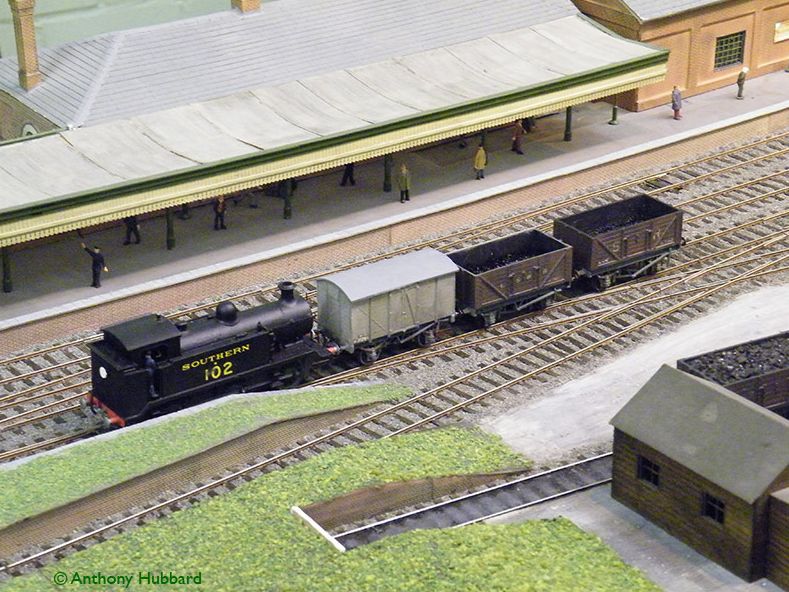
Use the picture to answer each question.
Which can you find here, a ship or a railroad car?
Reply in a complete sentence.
Visible in the photo is a railroad car.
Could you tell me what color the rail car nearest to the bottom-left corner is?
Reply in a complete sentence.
The color of the rail car nearest to the bottom-left corner is black.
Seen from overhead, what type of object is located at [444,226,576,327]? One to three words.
rail car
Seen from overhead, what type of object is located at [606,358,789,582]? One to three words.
shed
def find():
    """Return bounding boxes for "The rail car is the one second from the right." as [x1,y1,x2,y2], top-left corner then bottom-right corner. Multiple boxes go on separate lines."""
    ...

[556,193,684,290]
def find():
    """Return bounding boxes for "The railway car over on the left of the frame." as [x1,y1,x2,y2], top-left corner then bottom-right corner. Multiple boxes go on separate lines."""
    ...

[82,281,340,426]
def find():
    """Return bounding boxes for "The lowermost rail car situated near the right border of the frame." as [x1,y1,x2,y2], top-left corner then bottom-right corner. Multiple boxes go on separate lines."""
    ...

[683,331,789,419]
